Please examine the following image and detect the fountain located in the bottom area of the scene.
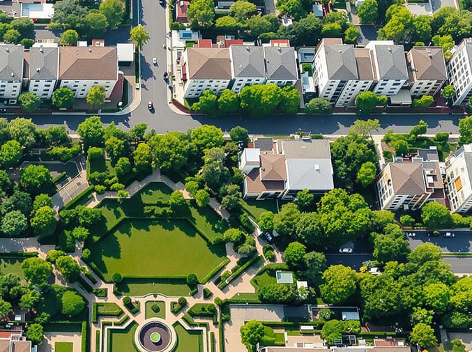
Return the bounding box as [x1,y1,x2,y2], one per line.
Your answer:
[134,317,177,352]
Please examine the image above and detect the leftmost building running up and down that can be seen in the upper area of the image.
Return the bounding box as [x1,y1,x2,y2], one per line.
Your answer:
[0,40,33,107]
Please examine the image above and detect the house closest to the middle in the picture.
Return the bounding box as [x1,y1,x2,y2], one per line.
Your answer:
[241,137,334,202]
